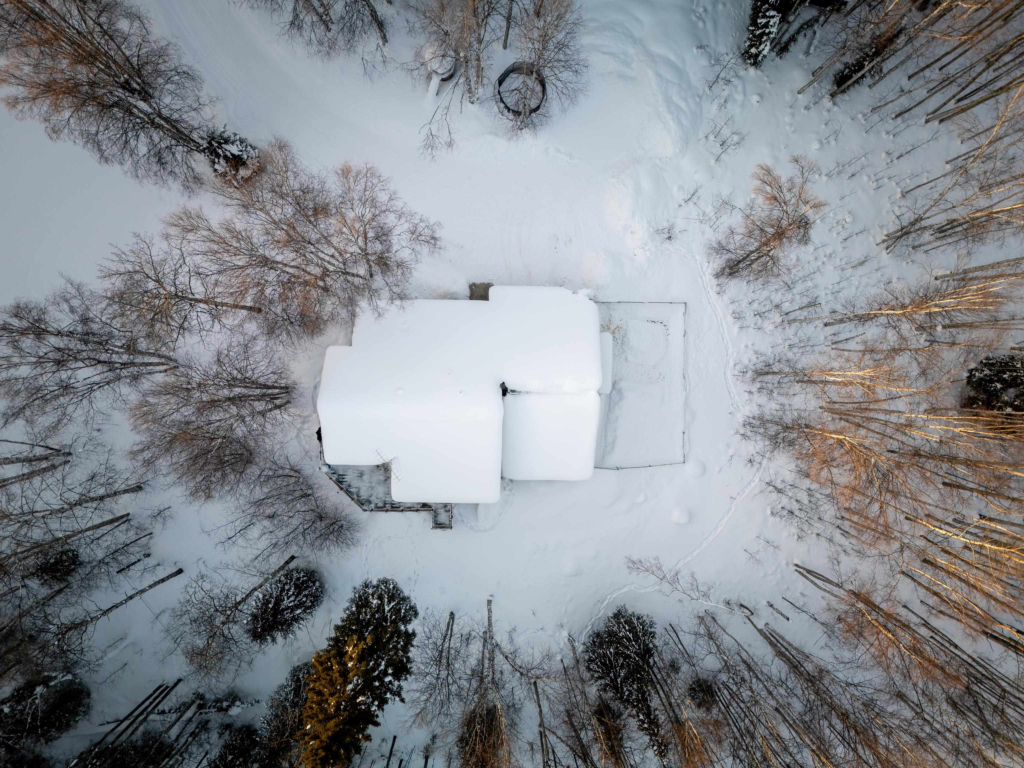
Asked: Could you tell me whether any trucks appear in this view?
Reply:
No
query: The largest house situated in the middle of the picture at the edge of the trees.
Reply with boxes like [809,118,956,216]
[319,287,603,503]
